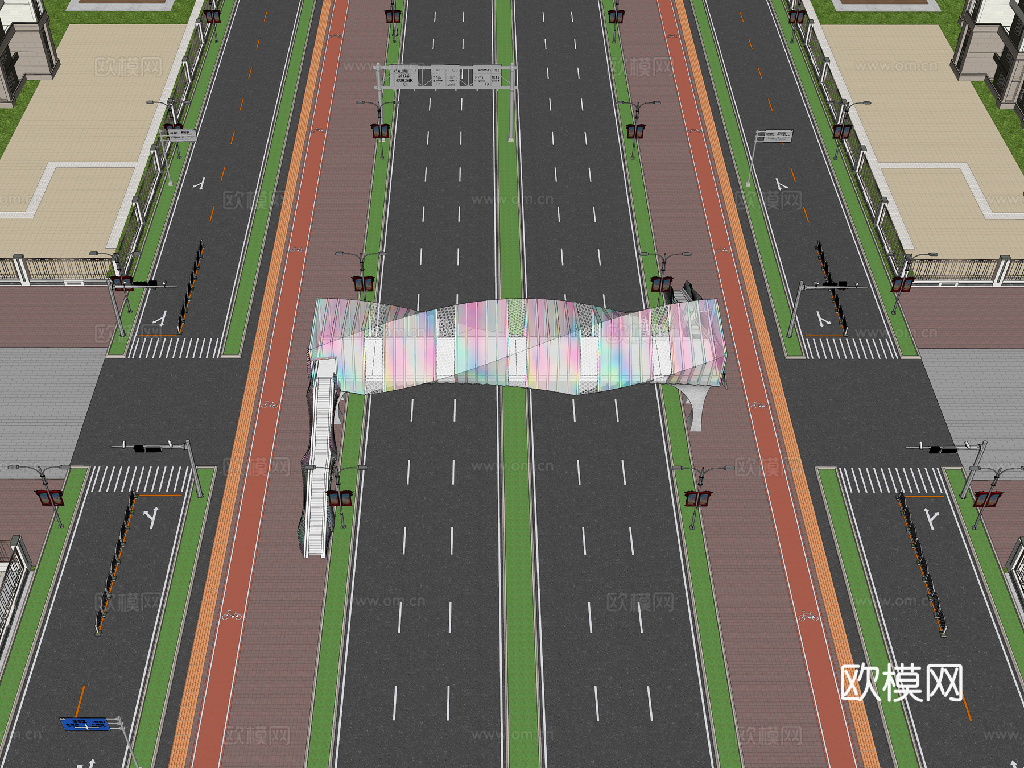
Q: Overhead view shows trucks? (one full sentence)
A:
No, the photo shows no truck.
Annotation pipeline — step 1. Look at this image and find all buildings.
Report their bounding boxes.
[0,0,61,108]
[950,0,1024,129]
